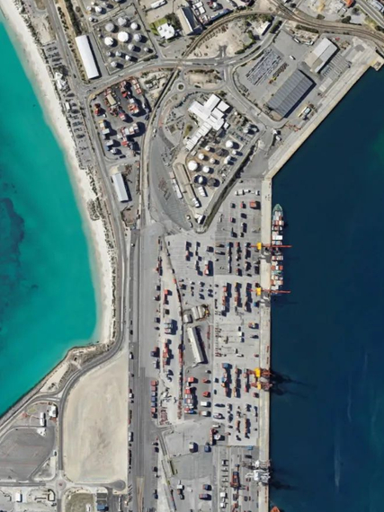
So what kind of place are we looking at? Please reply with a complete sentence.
The area seen from above is a port.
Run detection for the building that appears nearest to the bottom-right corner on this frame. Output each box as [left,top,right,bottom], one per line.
[187,326,204,364]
